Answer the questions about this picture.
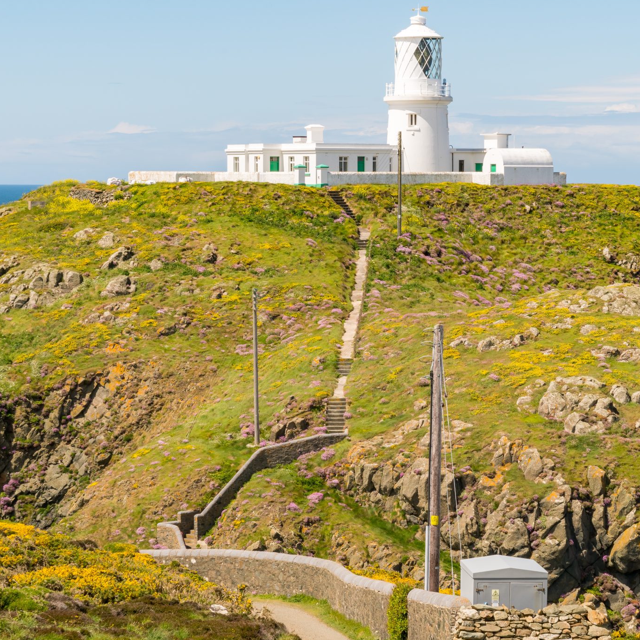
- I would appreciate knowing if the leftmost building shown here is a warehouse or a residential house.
residential house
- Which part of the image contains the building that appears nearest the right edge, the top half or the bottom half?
top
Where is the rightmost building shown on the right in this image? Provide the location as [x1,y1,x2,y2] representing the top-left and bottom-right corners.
[484,145,556,185]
